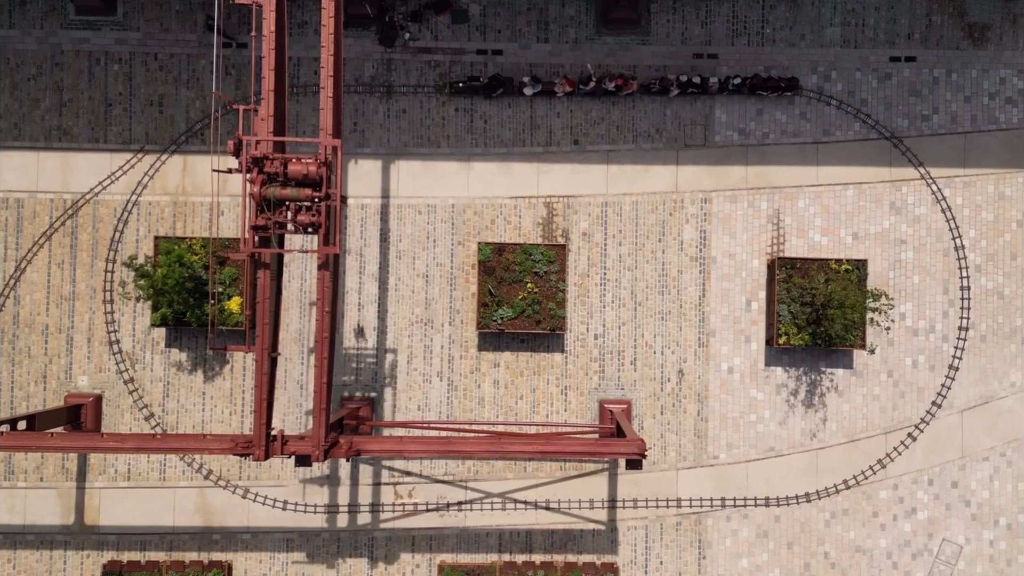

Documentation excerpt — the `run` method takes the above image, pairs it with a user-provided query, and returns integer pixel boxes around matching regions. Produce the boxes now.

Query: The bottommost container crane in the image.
[0,390,650,457]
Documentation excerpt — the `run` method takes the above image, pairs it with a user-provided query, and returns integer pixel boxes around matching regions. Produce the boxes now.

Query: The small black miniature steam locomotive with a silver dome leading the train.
[449,75,482,97]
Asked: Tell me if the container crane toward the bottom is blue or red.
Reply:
red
